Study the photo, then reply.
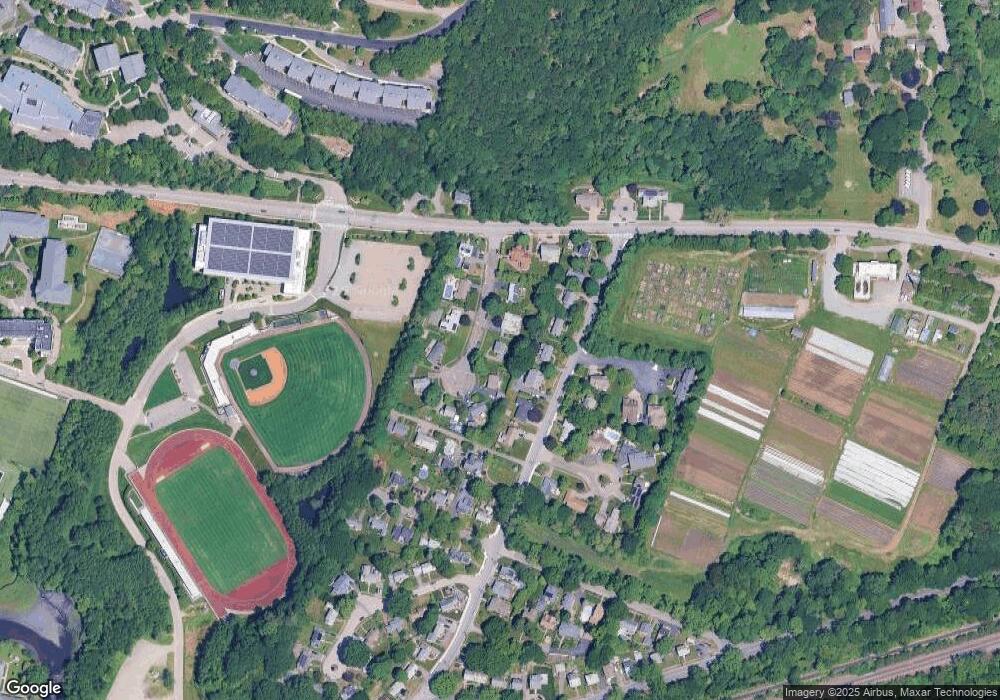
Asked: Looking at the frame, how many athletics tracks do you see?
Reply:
1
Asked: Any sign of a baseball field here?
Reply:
Yes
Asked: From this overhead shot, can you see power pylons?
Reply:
No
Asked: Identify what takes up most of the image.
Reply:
trees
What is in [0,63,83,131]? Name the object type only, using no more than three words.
building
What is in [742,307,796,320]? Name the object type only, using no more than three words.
greenhouse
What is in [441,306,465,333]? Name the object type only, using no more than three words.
house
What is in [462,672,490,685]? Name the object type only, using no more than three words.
house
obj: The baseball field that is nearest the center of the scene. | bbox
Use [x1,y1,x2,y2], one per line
[216,316,375,474]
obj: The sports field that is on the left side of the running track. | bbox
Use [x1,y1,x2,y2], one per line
[0,380,65,532]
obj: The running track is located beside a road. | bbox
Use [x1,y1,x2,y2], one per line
[128,425,300,618]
